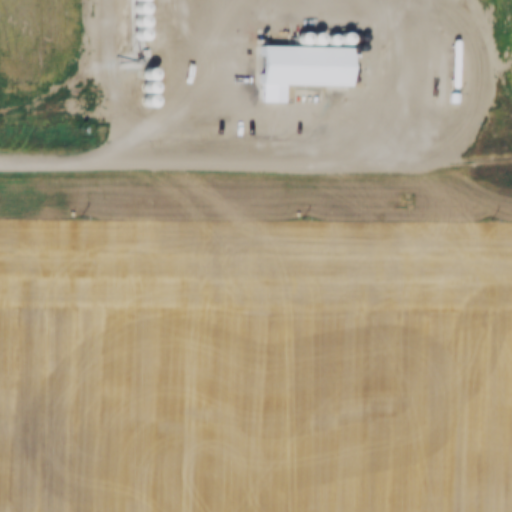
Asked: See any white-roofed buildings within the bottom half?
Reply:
No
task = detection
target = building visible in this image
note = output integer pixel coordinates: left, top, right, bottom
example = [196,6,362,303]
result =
[256,42,361,106]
